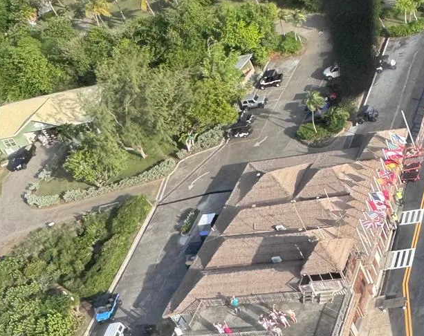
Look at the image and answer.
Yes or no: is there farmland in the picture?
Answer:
No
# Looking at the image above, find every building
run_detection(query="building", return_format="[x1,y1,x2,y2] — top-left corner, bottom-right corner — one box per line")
[227,52,254,85]
[0,56,110,157]
[165,122,409,336]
